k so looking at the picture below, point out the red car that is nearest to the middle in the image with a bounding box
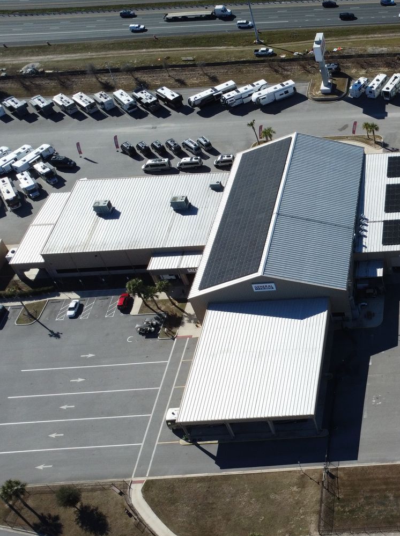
[117,293,131,310]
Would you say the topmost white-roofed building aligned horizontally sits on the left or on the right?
left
